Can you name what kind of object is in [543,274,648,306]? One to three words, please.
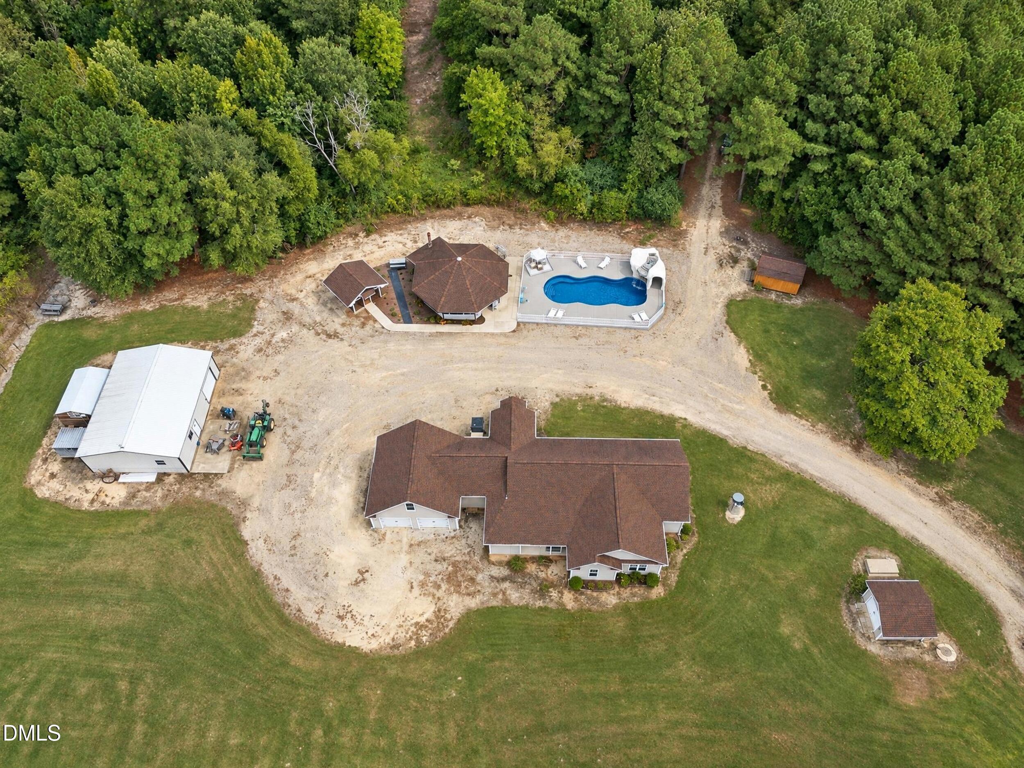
swimming pool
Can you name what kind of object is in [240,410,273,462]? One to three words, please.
work vehicle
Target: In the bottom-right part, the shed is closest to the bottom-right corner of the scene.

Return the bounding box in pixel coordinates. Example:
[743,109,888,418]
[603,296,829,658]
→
[858,580,939,648]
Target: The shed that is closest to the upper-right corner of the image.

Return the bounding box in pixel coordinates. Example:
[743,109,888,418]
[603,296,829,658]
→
[752,248,807,299]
